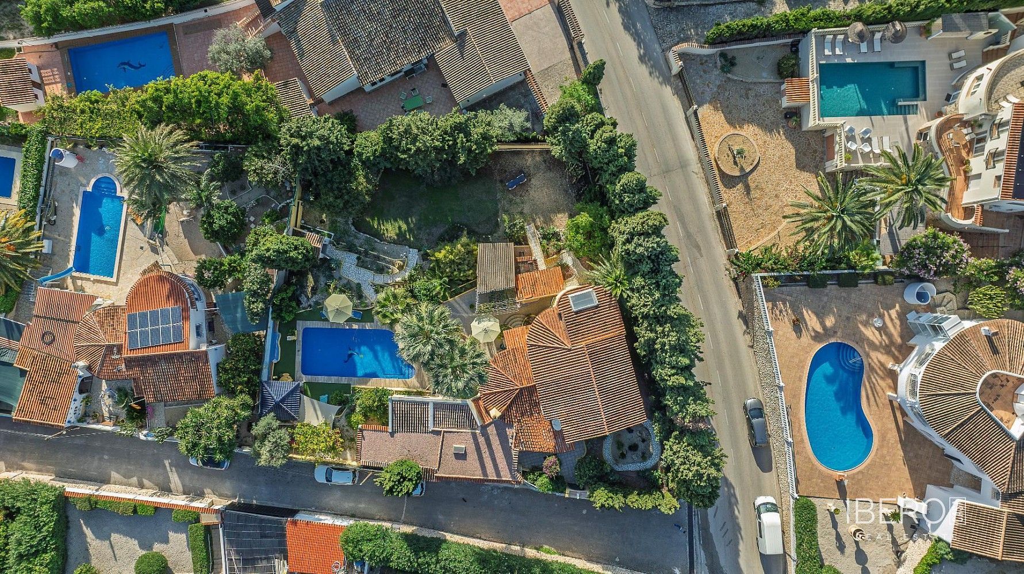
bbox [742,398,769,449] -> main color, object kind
gray car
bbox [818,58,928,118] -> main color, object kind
blue swimming pool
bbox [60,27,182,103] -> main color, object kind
blue swimming pool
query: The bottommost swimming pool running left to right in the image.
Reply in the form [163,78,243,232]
[300,326,415,381]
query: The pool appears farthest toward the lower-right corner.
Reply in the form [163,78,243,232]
[800,337,878,476]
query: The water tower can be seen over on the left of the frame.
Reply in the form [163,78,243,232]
[49,148,80,167]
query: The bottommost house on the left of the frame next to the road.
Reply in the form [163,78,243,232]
[285,504,356,574]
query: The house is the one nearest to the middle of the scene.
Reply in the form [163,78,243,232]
[513,246,563,301]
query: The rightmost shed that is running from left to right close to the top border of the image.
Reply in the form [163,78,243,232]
[922,10,1017,43]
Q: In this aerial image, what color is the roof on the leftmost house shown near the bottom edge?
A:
orange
